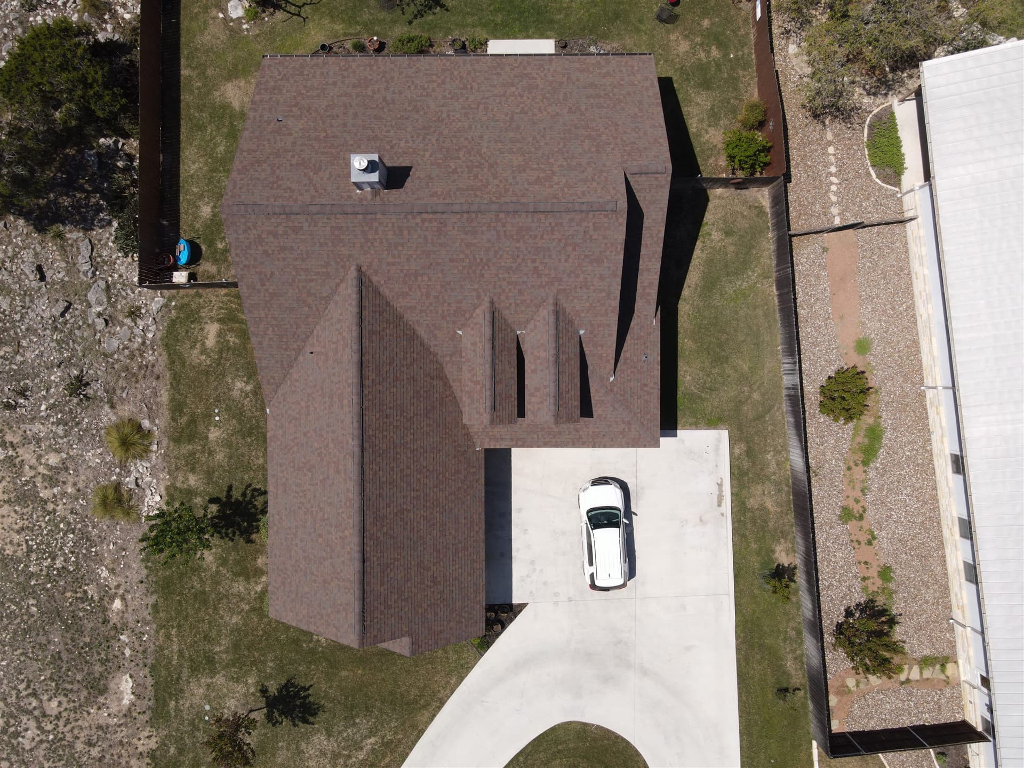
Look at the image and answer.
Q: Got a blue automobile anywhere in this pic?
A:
No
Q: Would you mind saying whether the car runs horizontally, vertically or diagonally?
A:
vertically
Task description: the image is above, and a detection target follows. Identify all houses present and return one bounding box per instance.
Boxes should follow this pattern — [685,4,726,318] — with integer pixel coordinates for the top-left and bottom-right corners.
[891,38,1024,768]
[221,52,671,657]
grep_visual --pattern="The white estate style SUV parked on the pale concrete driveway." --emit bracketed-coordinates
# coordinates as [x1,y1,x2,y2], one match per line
[577,479,632,593]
